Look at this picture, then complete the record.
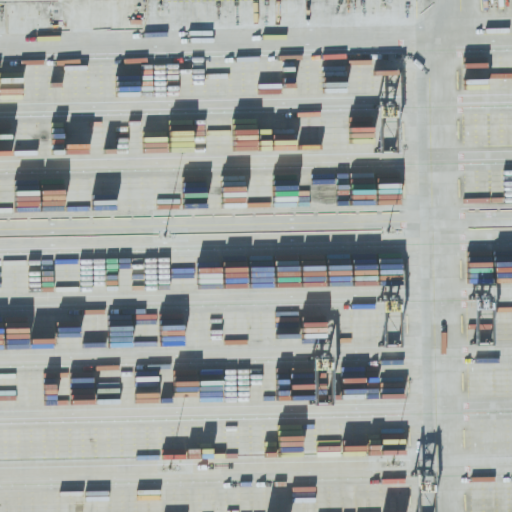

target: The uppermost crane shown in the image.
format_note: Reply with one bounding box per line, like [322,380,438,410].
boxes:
[374,105,402,155]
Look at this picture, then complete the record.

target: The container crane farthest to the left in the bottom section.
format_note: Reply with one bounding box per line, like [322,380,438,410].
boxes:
[309,357,336,406]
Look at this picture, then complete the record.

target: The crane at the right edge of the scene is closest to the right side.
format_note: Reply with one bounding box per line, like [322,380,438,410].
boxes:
[470,296,496,346]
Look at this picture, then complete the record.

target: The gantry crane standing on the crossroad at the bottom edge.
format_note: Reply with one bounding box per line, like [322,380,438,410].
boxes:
[412,468,438,512]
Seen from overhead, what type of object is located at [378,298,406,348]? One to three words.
container crane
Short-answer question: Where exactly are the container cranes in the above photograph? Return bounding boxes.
[309,357,336,406]
[470,296,496,346]
[378,298,406,348]
[374,105,402,155]
[412,468,438,512]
